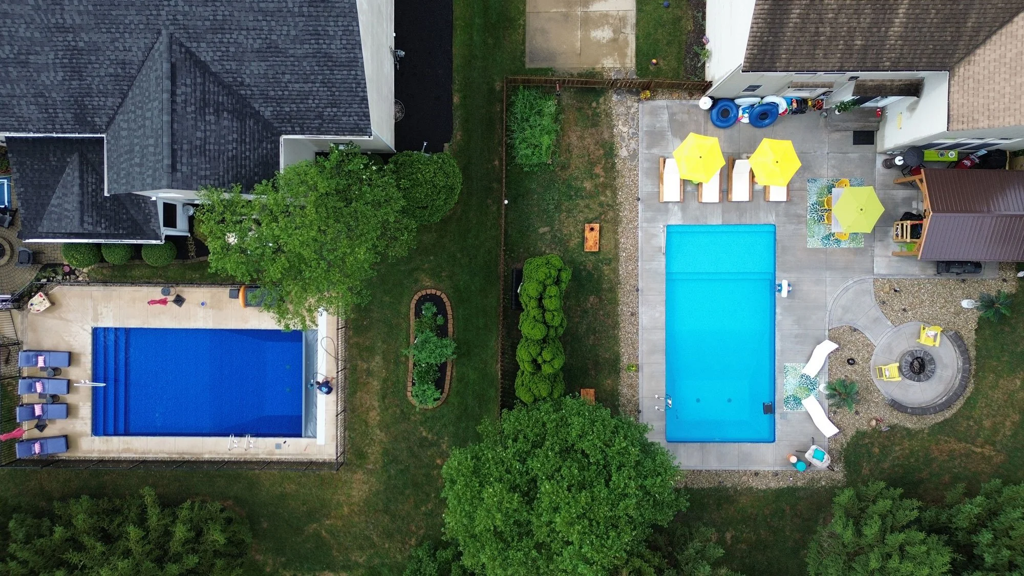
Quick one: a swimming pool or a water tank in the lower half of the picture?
swimming pool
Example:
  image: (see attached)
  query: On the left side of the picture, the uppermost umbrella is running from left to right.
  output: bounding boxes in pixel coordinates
[148,294,185,307]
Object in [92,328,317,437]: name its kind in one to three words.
swimming pool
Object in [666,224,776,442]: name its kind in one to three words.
swimming pool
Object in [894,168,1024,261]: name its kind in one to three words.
building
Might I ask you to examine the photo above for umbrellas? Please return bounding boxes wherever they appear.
[747,139,800,186]
[671,134,724,185]
[826,187,883,233]
[0,423,49,440]
[148,294,185,307]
